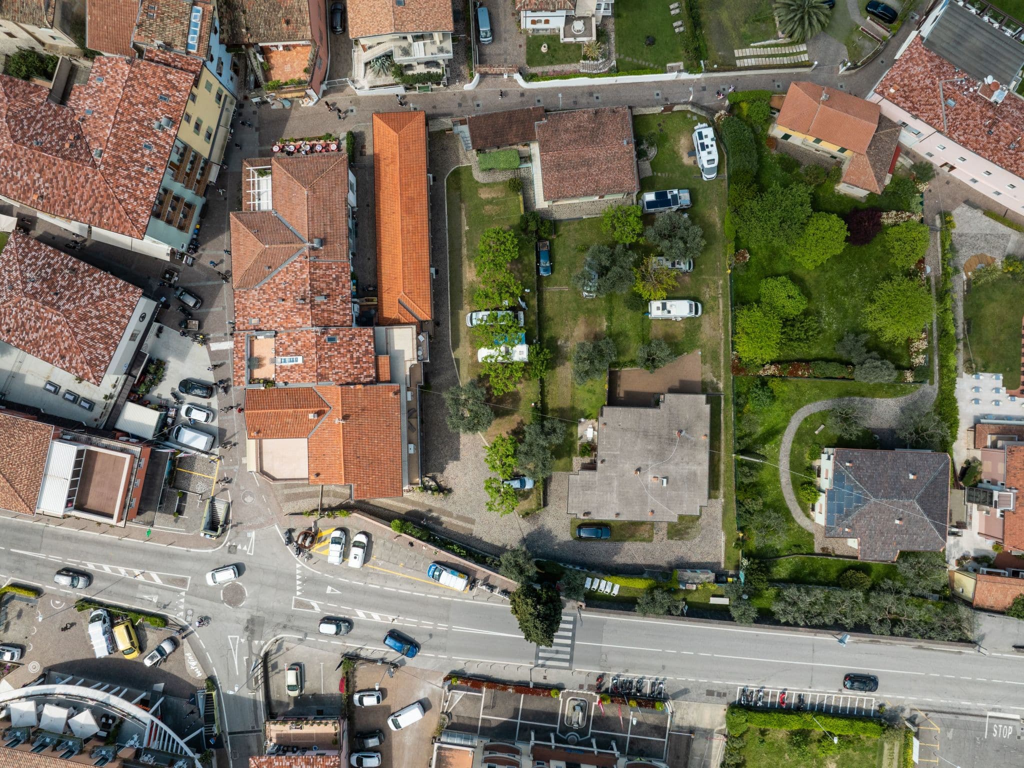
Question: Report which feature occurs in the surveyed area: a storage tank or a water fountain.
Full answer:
The one in the frame is a water fountain.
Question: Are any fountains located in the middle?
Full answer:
No, no fountain is visible in the middle.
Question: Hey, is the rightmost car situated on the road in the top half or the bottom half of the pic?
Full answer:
You can find the rightmost car situated on the road in the bottom half.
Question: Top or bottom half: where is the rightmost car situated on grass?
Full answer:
You can find the rightmost car situated on grass in the top half.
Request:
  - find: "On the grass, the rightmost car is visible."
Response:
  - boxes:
[861,1,900,27]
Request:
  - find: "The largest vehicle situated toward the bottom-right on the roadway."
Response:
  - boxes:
[840,672,876,692]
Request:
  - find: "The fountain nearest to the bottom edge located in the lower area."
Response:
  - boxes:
[566,693,590,727]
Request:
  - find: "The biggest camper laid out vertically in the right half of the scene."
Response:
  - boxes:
[689,121,719,184]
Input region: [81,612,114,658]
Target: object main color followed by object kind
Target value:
white van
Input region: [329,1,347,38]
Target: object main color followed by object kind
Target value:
black car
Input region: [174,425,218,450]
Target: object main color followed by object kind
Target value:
white vehicle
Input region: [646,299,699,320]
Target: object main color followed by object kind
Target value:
white camper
